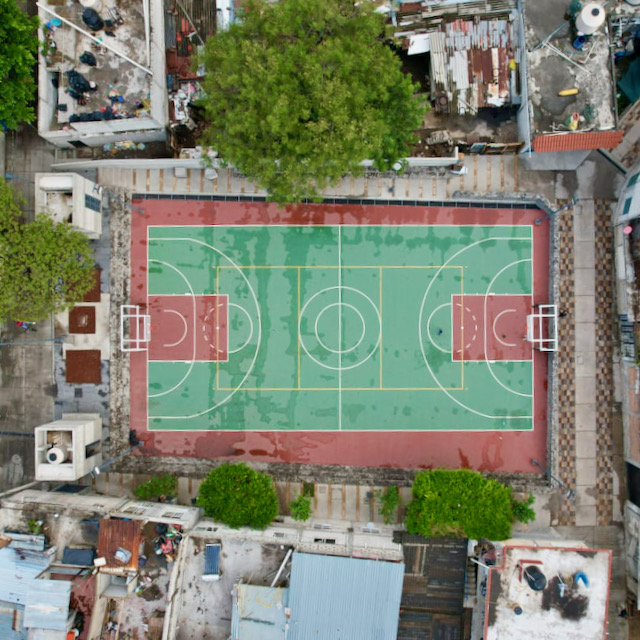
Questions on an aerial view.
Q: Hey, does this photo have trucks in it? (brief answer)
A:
No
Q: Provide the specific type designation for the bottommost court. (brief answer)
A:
basketball court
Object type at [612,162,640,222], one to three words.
house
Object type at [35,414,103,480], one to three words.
water tower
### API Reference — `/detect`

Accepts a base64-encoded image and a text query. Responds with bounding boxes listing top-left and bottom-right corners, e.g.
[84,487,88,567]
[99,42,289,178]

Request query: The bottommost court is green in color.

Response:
[131,202,549,474]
